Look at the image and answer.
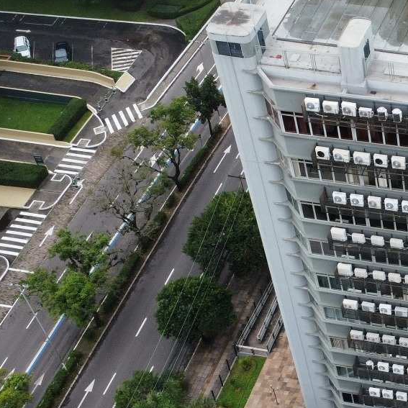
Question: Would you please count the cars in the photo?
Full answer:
In total, there are 2 cars in the scene.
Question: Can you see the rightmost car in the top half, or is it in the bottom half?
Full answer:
The rightmost car is in the top half of the image.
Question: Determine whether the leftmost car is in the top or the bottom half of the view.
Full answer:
It is in the top half that the leftmost car appears.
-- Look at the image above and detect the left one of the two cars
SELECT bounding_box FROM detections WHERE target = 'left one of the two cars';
[9,35,37,55]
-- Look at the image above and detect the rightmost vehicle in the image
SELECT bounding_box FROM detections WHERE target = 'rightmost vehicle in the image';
[49,39,78,62]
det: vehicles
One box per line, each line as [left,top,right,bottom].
[49,39,78,62]
[9,35,37,55]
